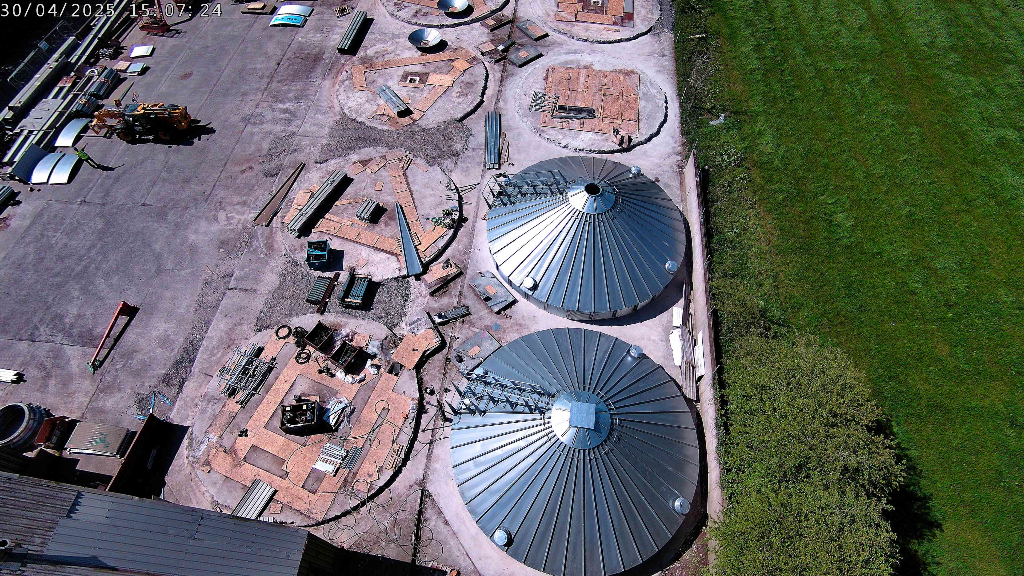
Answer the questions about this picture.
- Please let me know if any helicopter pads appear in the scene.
No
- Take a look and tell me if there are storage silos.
Yes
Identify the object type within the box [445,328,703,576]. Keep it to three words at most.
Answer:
silo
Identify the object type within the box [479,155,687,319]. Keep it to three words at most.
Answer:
silo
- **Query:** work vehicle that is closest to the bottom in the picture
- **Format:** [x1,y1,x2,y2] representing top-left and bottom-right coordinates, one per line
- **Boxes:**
[88,88,194,142]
